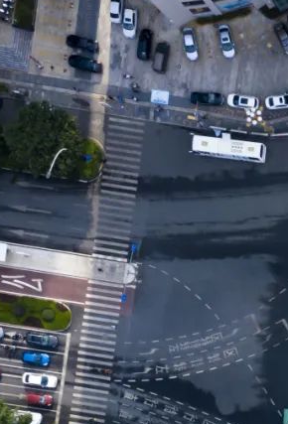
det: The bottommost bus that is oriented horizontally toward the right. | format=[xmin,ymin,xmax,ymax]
[190,132,270,164]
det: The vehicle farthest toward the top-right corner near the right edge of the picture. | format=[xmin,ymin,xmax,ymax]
[273,20,288,54]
